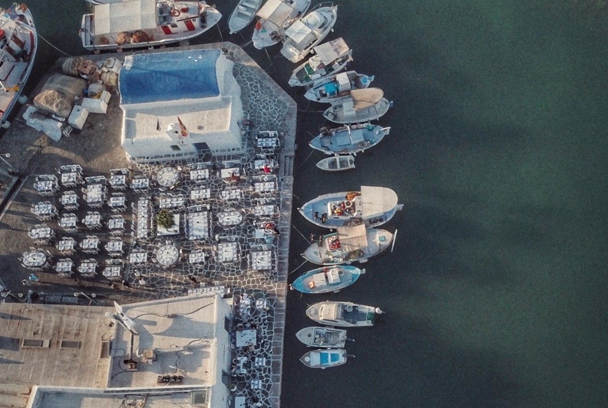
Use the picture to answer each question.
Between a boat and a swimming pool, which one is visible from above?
boat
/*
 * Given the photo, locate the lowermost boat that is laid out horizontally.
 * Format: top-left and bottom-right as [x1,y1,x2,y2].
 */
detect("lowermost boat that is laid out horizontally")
[299,349,350,368]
